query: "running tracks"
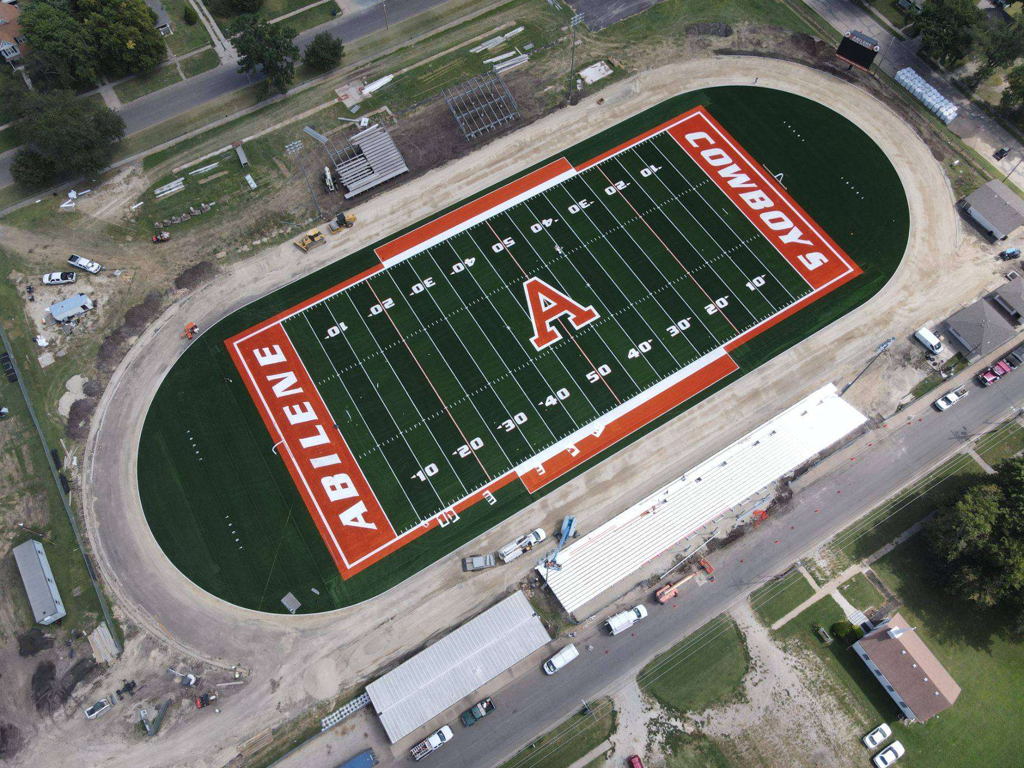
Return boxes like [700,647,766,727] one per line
[80,49,961,682]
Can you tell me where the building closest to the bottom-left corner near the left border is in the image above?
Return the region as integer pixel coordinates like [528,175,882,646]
[14,537,65,630]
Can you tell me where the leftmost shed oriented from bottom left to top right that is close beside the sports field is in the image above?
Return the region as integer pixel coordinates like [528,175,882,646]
[366,590,551,742]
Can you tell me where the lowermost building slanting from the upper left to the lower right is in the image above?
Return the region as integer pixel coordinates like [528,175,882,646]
[846,611,962,722]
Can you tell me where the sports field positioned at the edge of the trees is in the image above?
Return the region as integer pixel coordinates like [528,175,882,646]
[138,86,909,615]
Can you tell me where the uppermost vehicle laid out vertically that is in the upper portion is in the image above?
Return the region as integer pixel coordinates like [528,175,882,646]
[321,164,335,197]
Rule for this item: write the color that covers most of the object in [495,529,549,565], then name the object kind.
white truck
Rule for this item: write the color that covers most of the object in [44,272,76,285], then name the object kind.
white vehicle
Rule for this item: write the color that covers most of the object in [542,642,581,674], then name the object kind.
white van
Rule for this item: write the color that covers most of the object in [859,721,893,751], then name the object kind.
white car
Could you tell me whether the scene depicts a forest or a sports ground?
sports ground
